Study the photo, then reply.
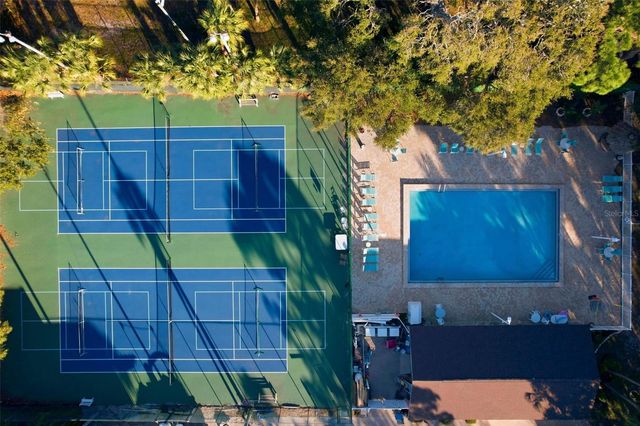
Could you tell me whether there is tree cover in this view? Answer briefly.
Yes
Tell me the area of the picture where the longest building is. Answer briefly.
bottom right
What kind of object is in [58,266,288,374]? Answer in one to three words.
tennis court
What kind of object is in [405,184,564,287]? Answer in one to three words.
swimming pool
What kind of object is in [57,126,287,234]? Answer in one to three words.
tennis court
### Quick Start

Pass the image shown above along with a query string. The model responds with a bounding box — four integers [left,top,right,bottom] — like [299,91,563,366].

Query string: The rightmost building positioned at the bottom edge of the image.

[409,322,599,420]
